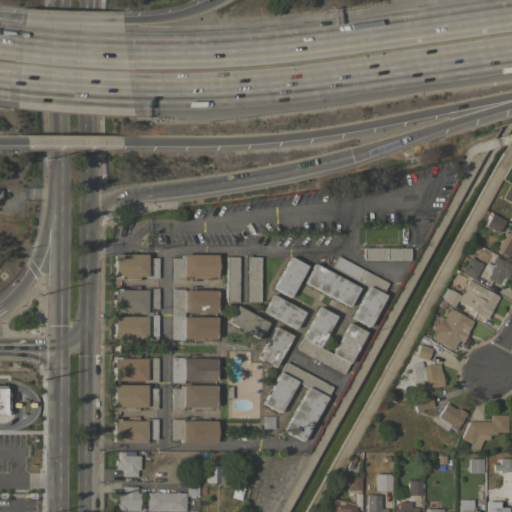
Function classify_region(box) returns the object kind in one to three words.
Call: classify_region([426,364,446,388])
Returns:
house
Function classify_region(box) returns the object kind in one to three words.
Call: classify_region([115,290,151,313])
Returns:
building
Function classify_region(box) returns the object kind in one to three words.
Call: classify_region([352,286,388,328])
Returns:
building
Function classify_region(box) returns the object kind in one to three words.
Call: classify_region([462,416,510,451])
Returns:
house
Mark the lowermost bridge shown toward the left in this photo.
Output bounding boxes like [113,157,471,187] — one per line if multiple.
[28,135,124,152]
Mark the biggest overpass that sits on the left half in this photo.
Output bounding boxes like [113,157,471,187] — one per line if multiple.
[17,6,131,118]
